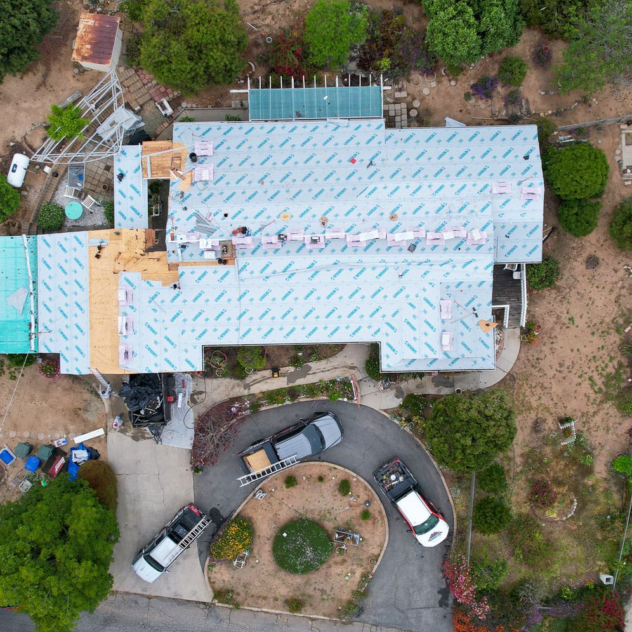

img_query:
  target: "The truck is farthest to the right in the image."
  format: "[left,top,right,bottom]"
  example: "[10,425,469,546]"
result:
[373,456,444,547]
